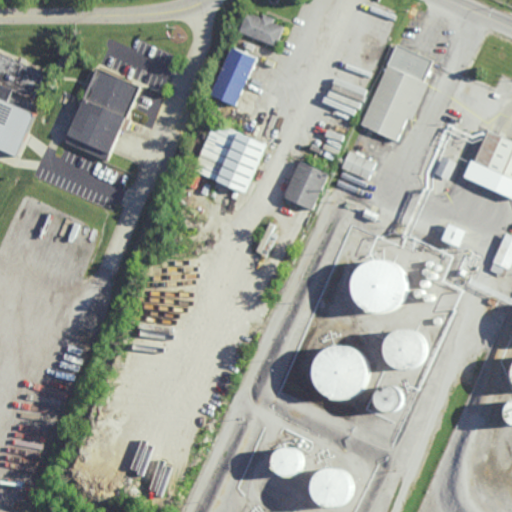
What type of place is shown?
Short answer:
industrial area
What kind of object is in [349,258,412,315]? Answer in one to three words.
storage tank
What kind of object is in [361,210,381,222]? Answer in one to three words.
vehicle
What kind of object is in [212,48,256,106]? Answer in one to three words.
building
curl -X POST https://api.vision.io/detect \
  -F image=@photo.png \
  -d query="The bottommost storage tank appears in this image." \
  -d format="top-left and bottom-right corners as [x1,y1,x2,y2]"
[308,466,357,512]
